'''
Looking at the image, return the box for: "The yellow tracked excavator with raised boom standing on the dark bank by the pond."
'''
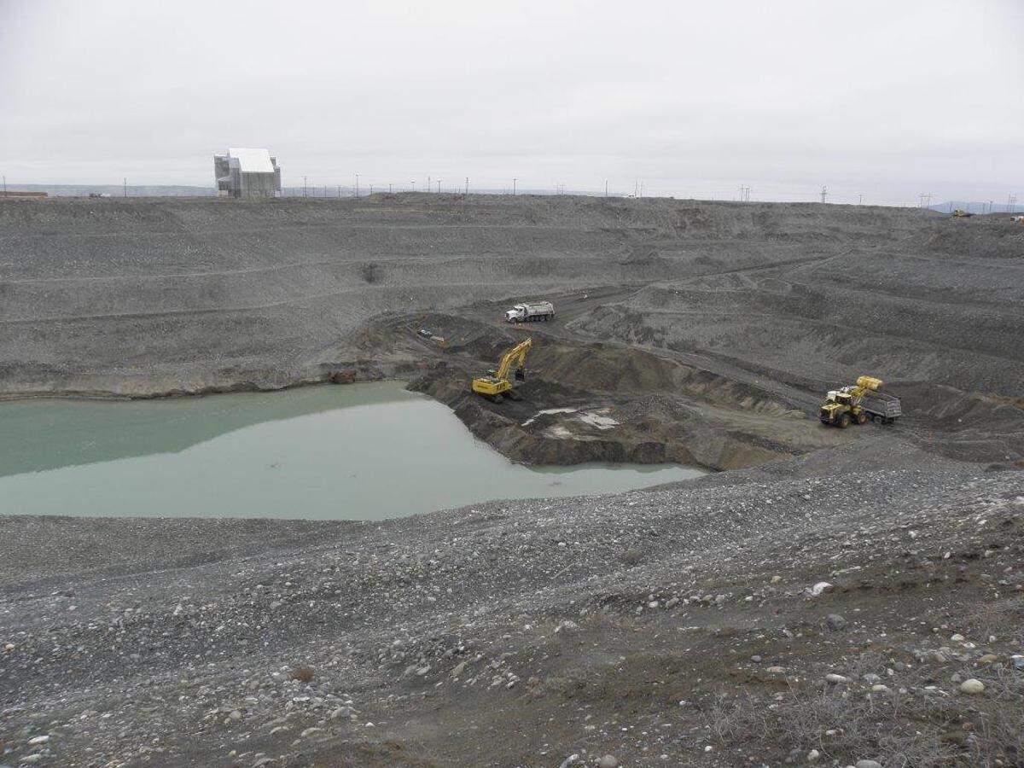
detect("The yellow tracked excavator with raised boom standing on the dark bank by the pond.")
[472,336,531,401]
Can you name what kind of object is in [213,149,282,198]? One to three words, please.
building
